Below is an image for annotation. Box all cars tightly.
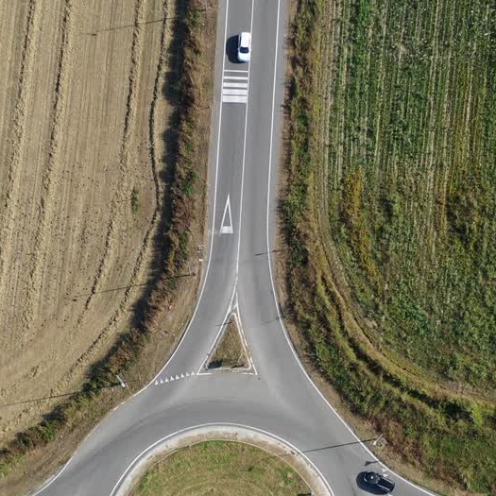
[361,468,396,492]
[236,32,252,61]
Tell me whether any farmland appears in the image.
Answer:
Yes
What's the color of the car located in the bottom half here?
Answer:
black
